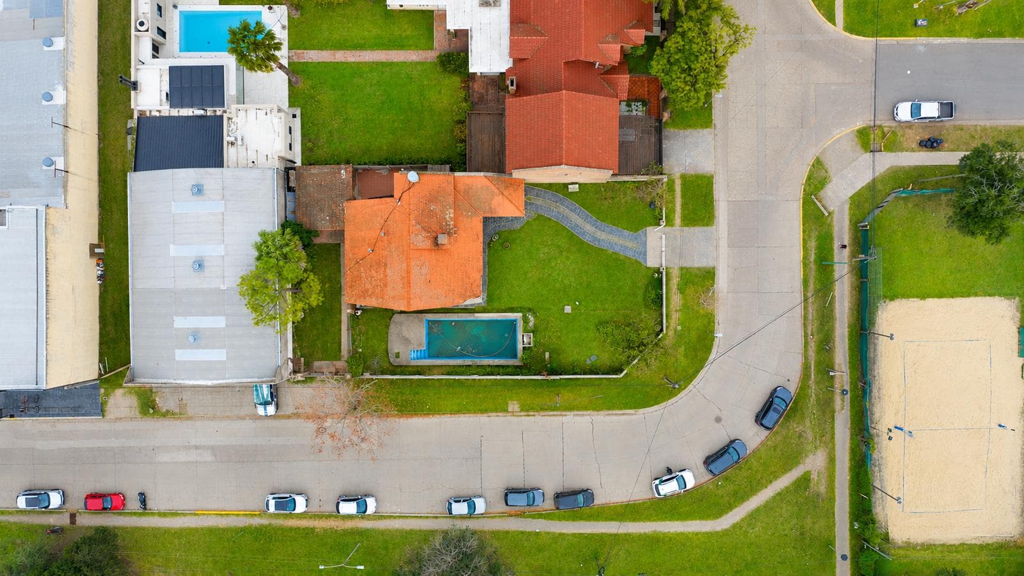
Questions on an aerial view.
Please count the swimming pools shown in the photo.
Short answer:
2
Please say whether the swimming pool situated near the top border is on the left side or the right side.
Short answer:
left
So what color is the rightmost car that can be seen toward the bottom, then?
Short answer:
blue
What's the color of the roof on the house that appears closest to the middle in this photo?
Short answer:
orange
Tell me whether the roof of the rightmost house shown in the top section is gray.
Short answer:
No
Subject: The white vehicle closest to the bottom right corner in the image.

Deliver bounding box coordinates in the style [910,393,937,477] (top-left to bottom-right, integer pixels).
[653,472,697,501]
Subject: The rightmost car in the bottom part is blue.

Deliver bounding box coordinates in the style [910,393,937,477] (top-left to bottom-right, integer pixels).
[757,387,794,435]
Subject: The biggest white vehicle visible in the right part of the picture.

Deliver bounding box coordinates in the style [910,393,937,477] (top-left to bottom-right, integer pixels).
[895,97,957,122]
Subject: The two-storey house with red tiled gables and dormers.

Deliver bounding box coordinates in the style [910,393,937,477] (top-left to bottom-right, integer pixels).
[506,0,653,181]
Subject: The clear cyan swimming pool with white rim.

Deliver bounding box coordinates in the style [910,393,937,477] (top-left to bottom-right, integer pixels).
[174,5,266,56]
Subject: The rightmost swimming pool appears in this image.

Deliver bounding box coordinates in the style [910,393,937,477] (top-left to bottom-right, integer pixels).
[389,313,523,365]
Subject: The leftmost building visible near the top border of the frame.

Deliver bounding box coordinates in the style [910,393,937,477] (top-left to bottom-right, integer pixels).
[0,0,99,215]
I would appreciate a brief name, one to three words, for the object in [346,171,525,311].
house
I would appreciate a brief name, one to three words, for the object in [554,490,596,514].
car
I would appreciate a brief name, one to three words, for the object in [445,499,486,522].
car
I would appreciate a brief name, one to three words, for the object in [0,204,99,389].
building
